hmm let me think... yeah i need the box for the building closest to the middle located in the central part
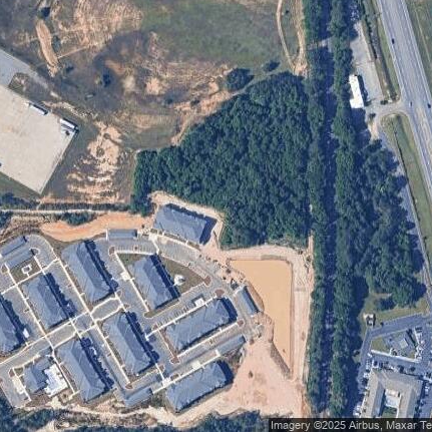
[153,207,210,244]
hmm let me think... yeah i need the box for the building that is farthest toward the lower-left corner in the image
[22,355,52,392]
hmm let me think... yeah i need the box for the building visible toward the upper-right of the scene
[350,75,365,109]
